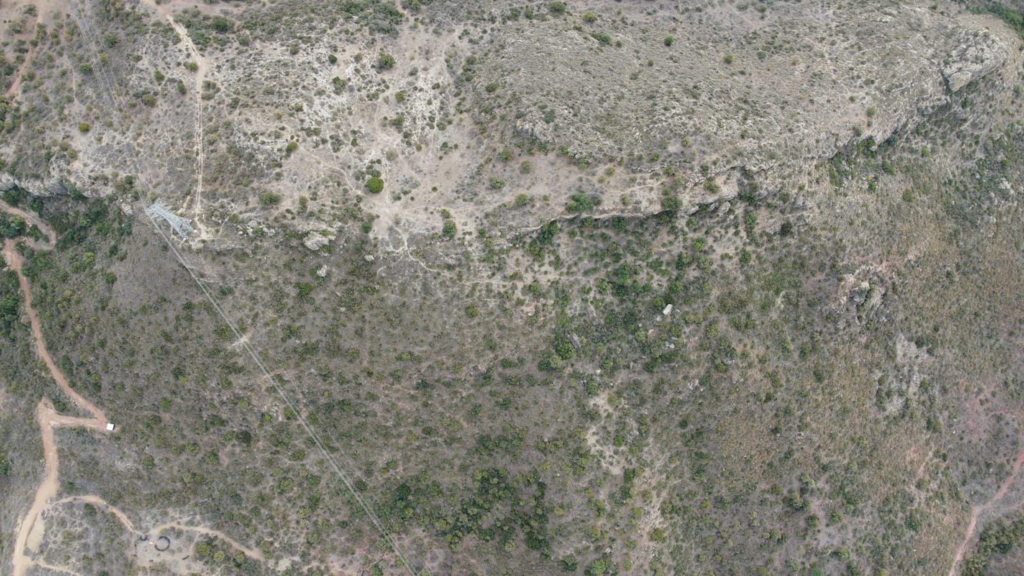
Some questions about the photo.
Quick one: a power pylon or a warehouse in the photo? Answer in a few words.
power pylon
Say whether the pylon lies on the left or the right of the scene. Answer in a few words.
left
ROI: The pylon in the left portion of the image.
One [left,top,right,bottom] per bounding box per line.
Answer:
[147,206,198,240]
